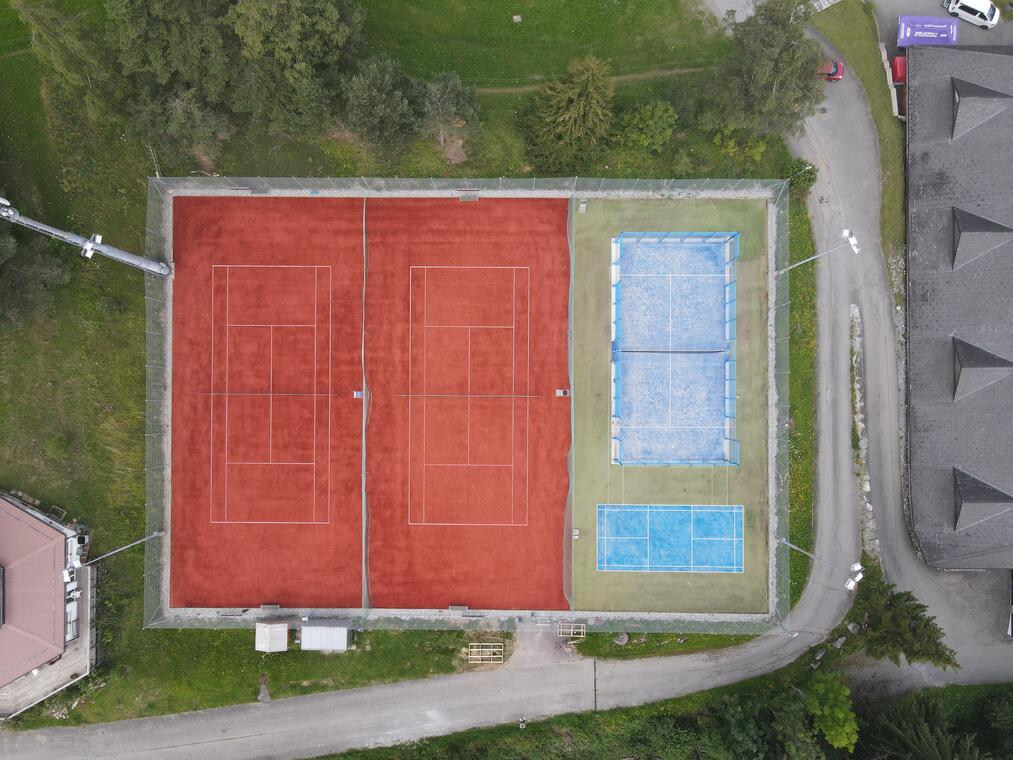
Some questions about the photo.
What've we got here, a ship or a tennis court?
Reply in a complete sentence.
It is a tennis court that can be seen here.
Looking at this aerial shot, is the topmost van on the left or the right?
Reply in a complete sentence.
The topmost van sits on the right side.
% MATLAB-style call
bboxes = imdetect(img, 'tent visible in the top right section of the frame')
[885,17,958,57]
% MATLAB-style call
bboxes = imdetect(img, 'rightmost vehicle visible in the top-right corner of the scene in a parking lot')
[938,0,999,33]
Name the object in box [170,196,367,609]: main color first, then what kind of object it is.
red tennis court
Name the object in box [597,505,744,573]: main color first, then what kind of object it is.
blue sports court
